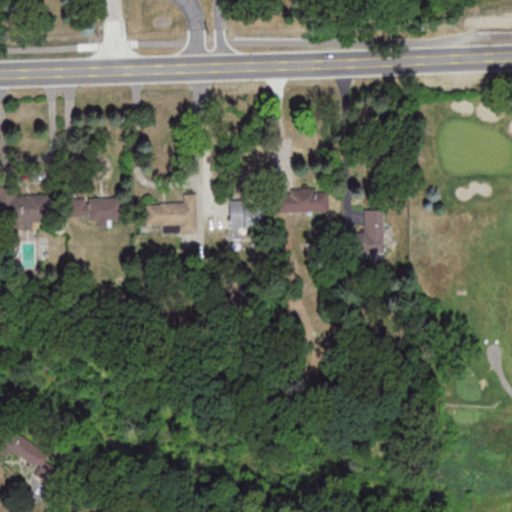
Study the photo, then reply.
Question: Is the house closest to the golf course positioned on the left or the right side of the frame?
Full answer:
You can find the house closest to the golf course on the right side of the picture.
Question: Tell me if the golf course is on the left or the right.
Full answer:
The golf course sits on the right side.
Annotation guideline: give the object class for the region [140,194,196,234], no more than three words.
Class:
house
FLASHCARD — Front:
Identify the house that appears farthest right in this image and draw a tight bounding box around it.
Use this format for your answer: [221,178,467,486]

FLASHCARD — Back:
[358,210,384,253]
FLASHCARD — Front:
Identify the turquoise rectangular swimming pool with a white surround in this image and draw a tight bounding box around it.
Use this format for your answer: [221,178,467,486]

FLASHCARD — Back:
[20,240,36,272]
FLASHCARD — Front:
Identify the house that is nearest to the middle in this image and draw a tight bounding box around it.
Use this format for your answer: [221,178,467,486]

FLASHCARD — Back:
[227,199,256,240]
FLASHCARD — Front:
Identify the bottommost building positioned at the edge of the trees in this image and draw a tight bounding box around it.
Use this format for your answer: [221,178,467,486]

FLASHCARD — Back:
[2,432,48,480]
